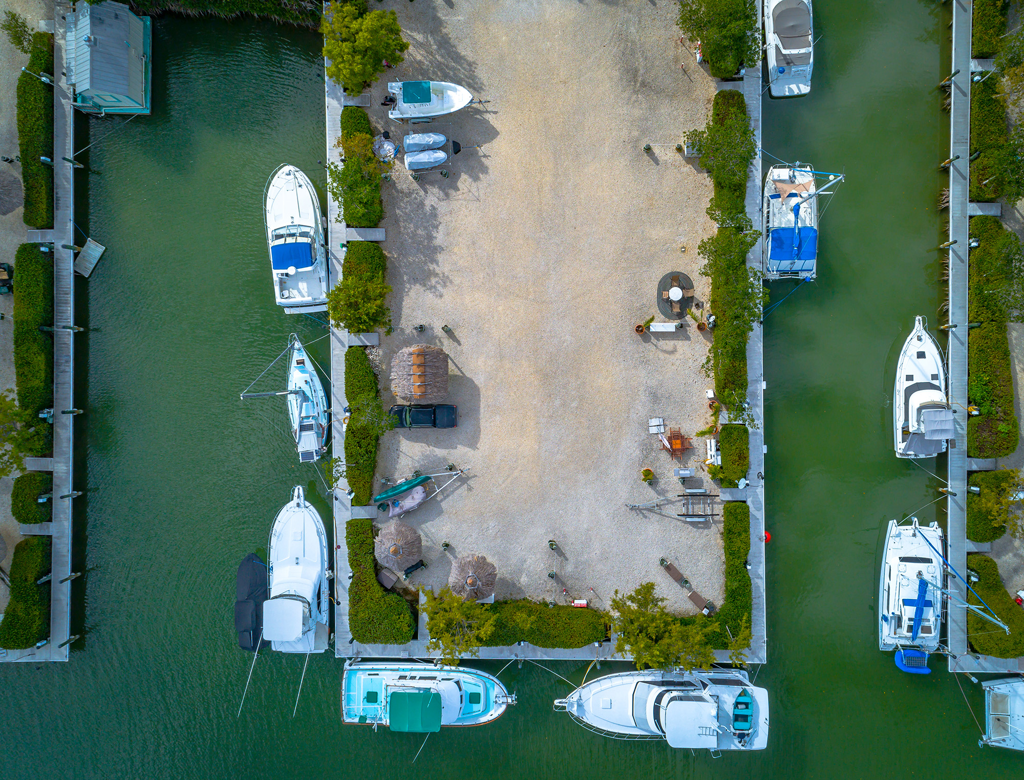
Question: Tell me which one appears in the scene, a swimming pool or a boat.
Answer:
boat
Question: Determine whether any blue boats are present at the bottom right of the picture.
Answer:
Yes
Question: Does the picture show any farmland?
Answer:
No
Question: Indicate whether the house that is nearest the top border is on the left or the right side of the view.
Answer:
left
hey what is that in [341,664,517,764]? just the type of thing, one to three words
boat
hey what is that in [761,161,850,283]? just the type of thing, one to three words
boat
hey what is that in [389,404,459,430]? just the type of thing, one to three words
truck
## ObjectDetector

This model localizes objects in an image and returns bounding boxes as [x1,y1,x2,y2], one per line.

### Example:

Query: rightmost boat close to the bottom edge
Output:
[979,674,1024,751]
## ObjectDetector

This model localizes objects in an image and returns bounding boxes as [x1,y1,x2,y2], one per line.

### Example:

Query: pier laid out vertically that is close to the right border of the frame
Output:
[946,0,1024,673]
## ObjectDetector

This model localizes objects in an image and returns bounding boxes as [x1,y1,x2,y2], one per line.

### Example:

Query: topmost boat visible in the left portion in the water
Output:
[263,163,330,314]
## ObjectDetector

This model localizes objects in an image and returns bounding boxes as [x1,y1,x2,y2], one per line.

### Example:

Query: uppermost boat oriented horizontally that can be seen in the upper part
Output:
[380,81,473,120]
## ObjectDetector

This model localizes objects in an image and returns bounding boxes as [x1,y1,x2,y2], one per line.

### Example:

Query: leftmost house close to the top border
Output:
[66,0,156,118]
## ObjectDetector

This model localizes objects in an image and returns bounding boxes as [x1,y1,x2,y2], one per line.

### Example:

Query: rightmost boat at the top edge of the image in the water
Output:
[762,0,822,97]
